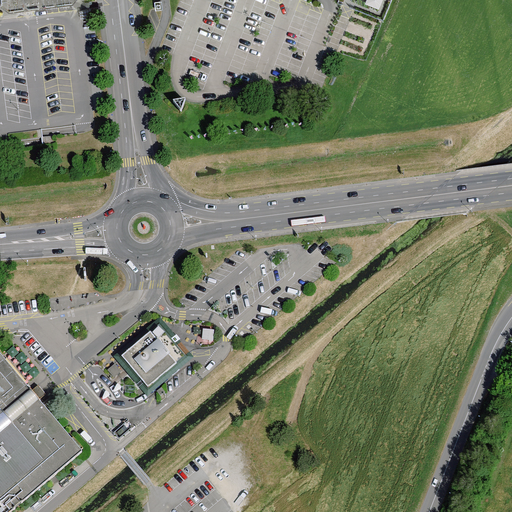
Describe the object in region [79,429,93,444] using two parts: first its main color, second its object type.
white vehicle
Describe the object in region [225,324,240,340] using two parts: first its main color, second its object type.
white vehicle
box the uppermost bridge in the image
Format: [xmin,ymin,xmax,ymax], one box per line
[397,162,512,222]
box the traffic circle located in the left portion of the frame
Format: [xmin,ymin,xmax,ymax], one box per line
[102,182,184,268]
